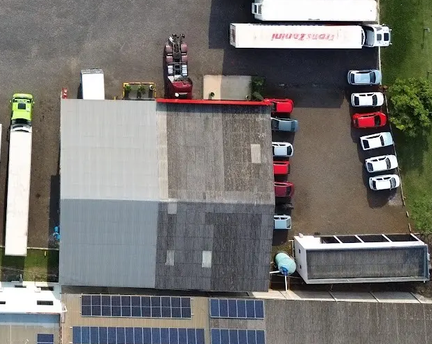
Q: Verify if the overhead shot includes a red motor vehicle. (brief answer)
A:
Yes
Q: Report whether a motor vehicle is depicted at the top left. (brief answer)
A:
Yes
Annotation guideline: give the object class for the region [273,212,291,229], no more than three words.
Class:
car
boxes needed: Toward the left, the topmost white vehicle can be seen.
[81,68,103,97]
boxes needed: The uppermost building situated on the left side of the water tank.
[56,94,275,292]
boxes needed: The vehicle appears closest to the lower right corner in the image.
[367,173,401,191]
